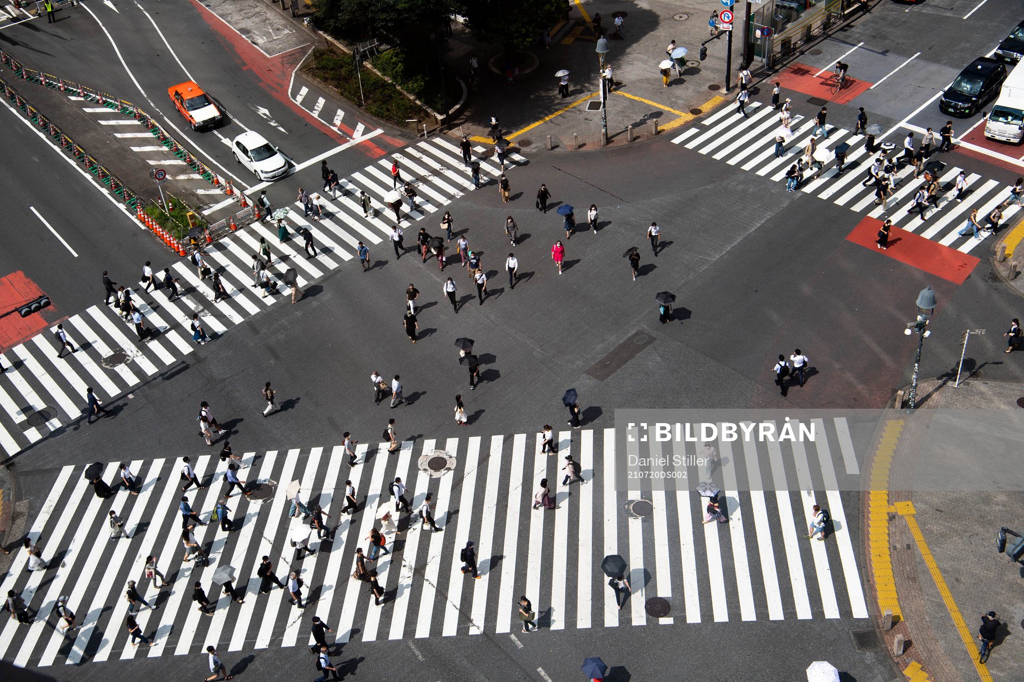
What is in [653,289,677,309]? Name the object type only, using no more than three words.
umbrella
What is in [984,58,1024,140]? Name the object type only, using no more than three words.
truck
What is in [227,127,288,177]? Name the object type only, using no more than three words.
car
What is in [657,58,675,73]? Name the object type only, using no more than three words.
umbrella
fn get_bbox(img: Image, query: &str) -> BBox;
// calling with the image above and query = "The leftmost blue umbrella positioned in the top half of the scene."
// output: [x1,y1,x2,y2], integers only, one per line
[556,208,575,223]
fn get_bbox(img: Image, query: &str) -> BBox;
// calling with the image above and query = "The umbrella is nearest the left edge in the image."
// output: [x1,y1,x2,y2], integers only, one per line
[89,461,113,484]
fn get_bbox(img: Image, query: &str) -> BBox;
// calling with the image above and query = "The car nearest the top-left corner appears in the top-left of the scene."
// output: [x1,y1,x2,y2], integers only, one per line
[169,83,225,131]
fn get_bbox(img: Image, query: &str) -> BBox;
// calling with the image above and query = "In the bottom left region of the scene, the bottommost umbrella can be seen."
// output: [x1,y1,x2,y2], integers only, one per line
[218,566,242,591]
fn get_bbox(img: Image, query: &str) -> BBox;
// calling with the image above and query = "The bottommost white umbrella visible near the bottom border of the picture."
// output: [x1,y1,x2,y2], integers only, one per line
[805,662,843,682]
